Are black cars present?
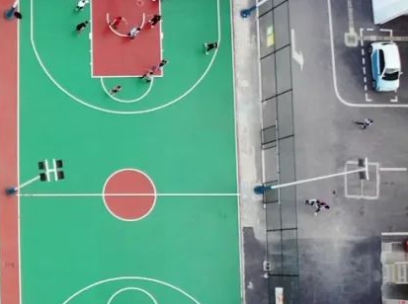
No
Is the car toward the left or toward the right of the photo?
right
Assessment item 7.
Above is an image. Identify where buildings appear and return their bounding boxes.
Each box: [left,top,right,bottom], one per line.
[381,230,408,304]
[374,0,408,24]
